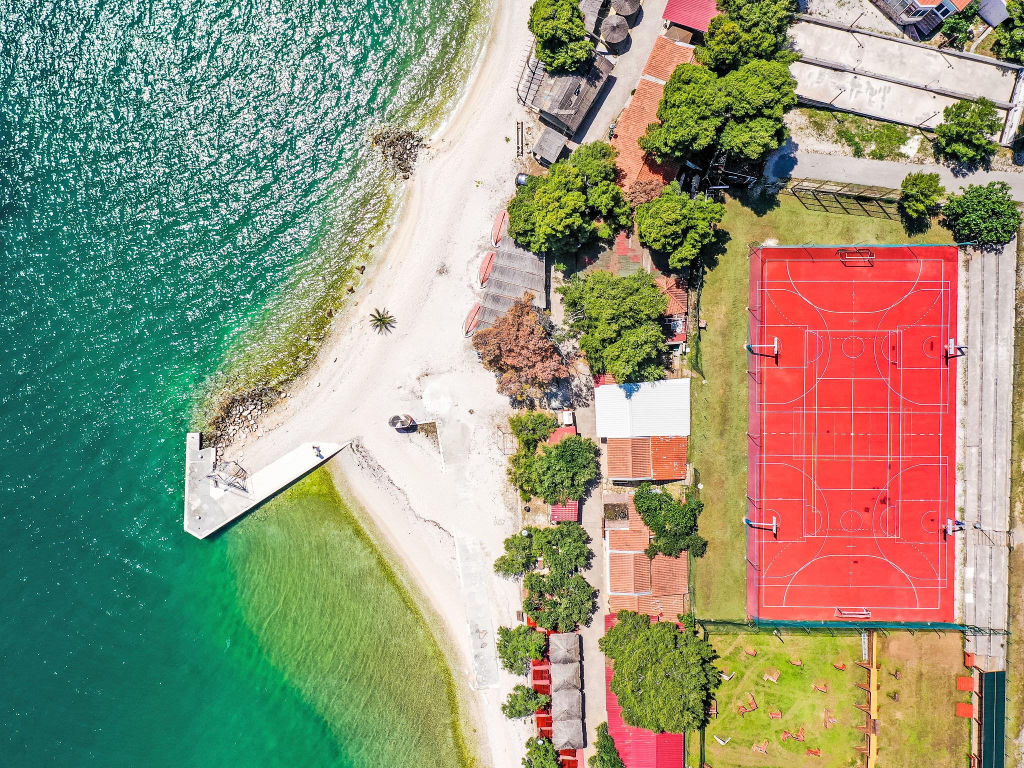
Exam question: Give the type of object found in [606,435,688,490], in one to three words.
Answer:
house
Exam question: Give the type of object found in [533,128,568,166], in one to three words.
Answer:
shed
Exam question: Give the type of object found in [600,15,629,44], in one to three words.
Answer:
umbrella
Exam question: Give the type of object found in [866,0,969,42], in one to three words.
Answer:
house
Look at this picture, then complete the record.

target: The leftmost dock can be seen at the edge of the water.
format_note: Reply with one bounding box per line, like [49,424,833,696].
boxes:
[184,432,352,539]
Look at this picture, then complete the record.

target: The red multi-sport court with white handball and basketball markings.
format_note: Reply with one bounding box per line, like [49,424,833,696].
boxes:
[746,246,958,622]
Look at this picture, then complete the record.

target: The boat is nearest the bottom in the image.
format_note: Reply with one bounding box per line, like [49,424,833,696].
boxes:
[462,301,483,338]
